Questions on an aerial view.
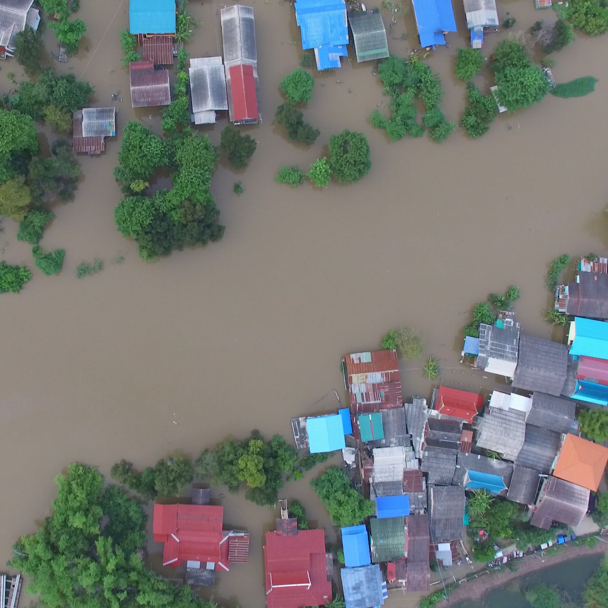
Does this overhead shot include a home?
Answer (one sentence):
Yes, there's a home here.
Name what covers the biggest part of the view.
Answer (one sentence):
The bulk of the photo consists of water.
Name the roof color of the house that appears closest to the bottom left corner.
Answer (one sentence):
The roof over the house that appears closest to the bottom left corner appears red.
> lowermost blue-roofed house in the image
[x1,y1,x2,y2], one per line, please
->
[340,561,388,608]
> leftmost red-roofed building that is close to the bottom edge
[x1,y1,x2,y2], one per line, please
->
[153,486,249,586]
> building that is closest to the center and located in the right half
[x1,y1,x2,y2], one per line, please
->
[340,350,402,414]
